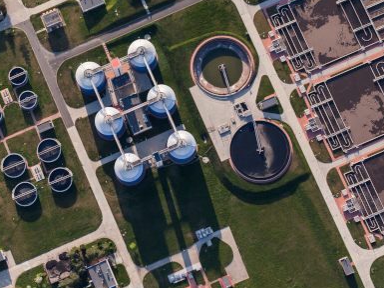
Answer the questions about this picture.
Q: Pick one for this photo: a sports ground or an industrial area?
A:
industrial area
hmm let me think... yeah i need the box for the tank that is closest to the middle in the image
[166,130,198,163]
